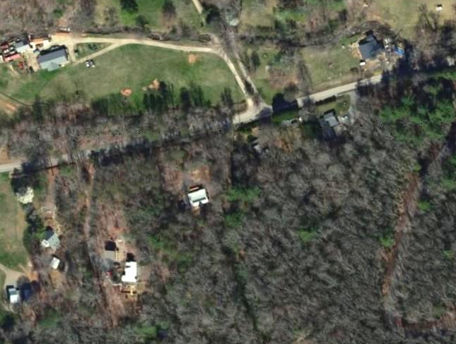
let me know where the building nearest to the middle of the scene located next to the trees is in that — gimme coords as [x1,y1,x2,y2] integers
[185,186,209,208]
